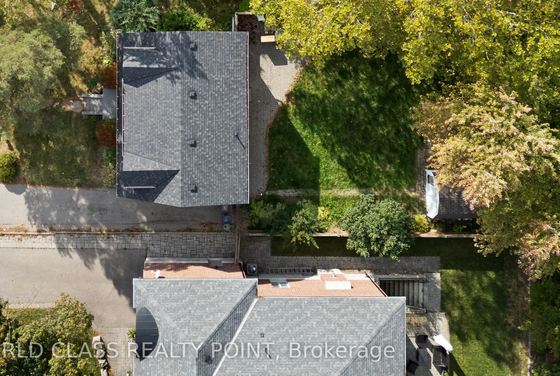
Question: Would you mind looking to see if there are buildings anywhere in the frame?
Yes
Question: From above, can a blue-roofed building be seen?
No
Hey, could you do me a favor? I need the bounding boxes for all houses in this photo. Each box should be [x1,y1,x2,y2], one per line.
[131,256,408,376]
[83,30,251,207]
